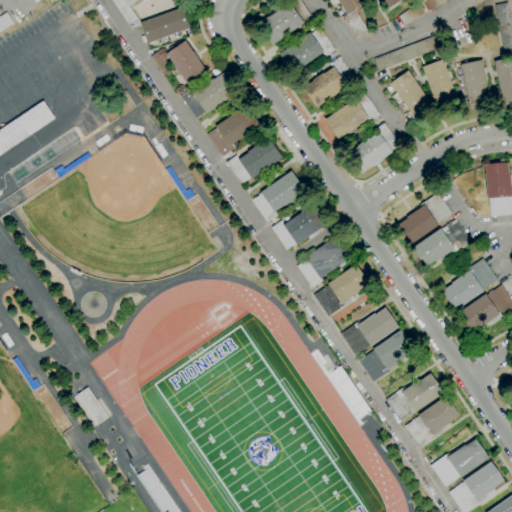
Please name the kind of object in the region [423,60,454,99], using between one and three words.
building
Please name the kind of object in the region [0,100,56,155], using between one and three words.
building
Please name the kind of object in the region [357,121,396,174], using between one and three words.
house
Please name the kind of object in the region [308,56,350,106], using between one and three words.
house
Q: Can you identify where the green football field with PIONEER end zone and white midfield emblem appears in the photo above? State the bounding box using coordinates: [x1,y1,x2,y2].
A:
[140,314,388,512]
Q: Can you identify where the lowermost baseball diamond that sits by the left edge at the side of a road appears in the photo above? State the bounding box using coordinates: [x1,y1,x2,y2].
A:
[0,340,107,512]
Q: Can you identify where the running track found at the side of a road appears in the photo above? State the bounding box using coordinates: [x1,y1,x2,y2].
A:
[90,280,406,512]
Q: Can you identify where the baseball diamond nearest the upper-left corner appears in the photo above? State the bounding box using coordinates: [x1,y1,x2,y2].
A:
[20,133,220,282]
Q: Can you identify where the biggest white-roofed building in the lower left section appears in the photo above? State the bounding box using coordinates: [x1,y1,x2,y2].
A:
[74,387,112,427]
